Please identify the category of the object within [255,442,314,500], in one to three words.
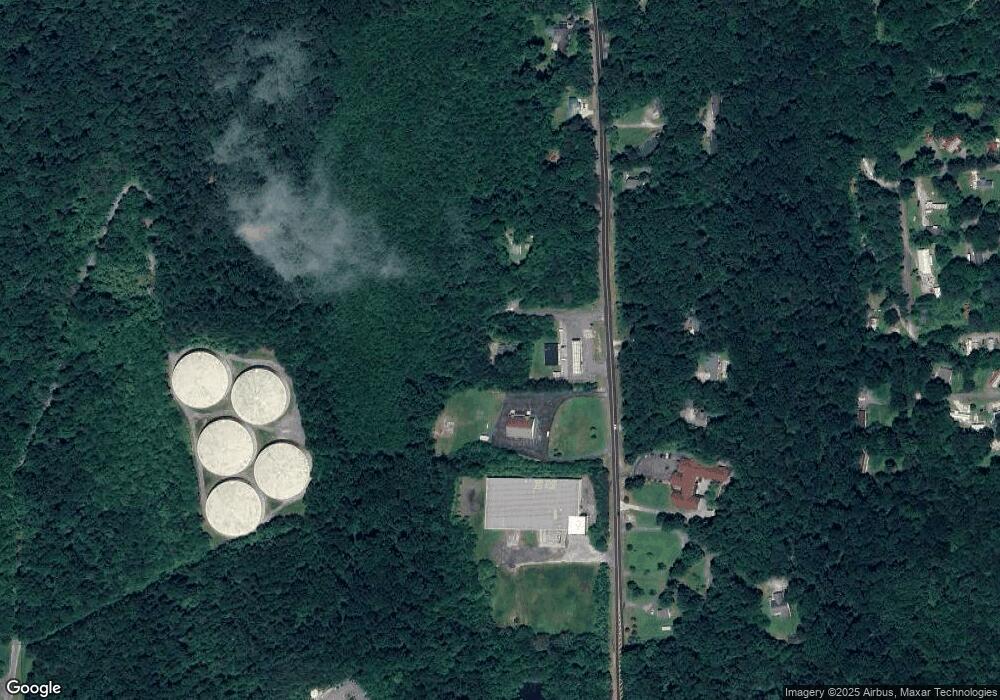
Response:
storage tank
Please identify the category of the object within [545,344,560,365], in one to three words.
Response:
building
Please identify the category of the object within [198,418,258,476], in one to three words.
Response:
storage tank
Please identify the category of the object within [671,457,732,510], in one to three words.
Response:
building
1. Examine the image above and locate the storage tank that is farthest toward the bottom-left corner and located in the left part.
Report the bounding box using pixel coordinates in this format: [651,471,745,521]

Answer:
[206,478,266,537]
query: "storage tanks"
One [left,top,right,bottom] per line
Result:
[255,442,314,500]
[206,478,266,537]
[173,351,232,409]
[232,367,292,426]
[198,418,258,476]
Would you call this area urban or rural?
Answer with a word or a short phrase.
rural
